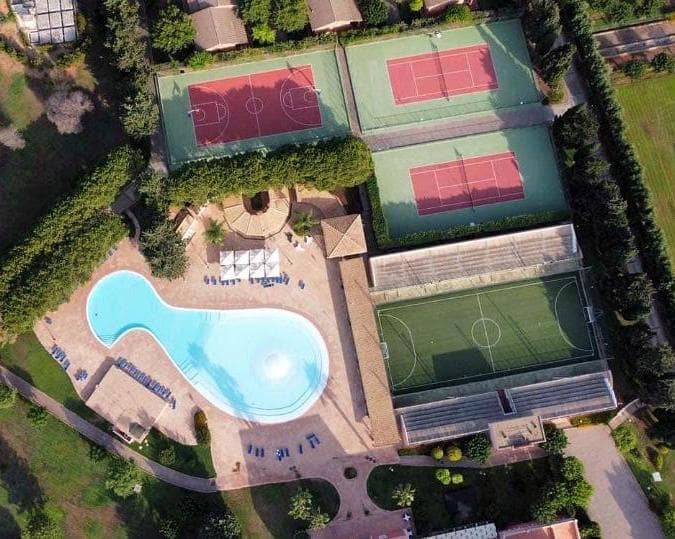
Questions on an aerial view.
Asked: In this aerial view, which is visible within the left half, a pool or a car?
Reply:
pool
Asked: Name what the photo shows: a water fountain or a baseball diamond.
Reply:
water fountain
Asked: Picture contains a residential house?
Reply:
Yes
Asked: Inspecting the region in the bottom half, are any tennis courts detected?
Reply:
No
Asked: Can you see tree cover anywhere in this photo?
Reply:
Yes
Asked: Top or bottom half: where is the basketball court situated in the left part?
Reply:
top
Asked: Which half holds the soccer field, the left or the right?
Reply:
right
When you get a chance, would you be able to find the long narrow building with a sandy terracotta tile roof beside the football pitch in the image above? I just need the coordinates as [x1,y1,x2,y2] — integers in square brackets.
[339,256,399,446]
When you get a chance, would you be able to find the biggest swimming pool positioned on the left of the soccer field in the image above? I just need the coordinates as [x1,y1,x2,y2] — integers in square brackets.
[85,269,331,426]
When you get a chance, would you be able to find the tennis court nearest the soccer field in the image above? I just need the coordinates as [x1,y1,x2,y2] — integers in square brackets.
[372,121,571,247]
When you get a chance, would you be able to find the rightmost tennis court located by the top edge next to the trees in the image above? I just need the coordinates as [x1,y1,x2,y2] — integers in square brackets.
[345,18,543,133]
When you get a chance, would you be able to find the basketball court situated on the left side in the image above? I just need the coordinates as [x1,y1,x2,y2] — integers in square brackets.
[156,49,351,167]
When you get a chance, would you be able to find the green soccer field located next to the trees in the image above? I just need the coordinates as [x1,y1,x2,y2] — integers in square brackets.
[373,270,601,397]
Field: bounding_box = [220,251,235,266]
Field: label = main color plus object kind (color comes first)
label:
white umbrella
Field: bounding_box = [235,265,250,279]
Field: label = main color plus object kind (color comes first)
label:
white umbrella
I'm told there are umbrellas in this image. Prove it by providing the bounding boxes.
[265,249,279,264]
[220,251,235,266]
[250,250,264,264]
[235,265,250,279]
[266,264,280,278]
[235,250,250,265]
[221,266,235,280]
[250,264,265,279]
